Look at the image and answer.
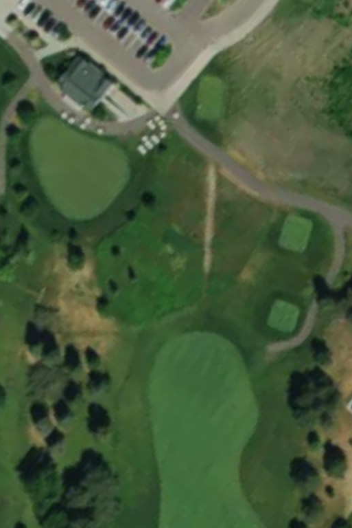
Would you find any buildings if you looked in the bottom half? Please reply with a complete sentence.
No, I can find no building in the bottom half.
